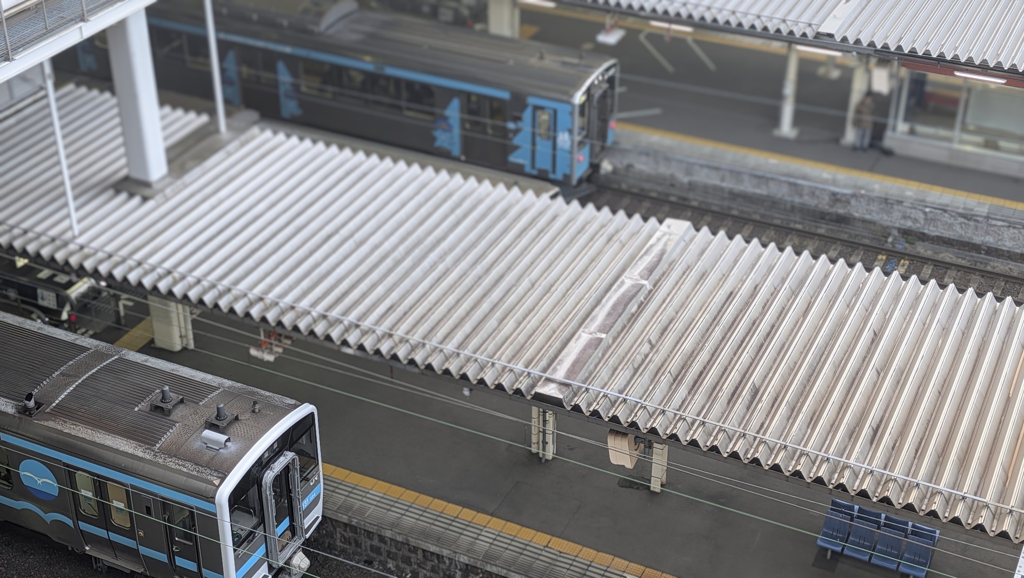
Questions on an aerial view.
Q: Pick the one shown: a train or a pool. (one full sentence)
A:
I can see a train in this picture.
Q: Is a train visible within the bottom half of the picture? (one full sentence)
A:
Yes, a train shows up within the bottom half of the picture.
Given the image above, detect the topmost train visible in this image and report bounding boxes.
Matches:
[70,0,613,202]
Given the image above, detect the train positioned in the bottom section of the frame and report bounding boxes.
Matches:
[0,308,327,578]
